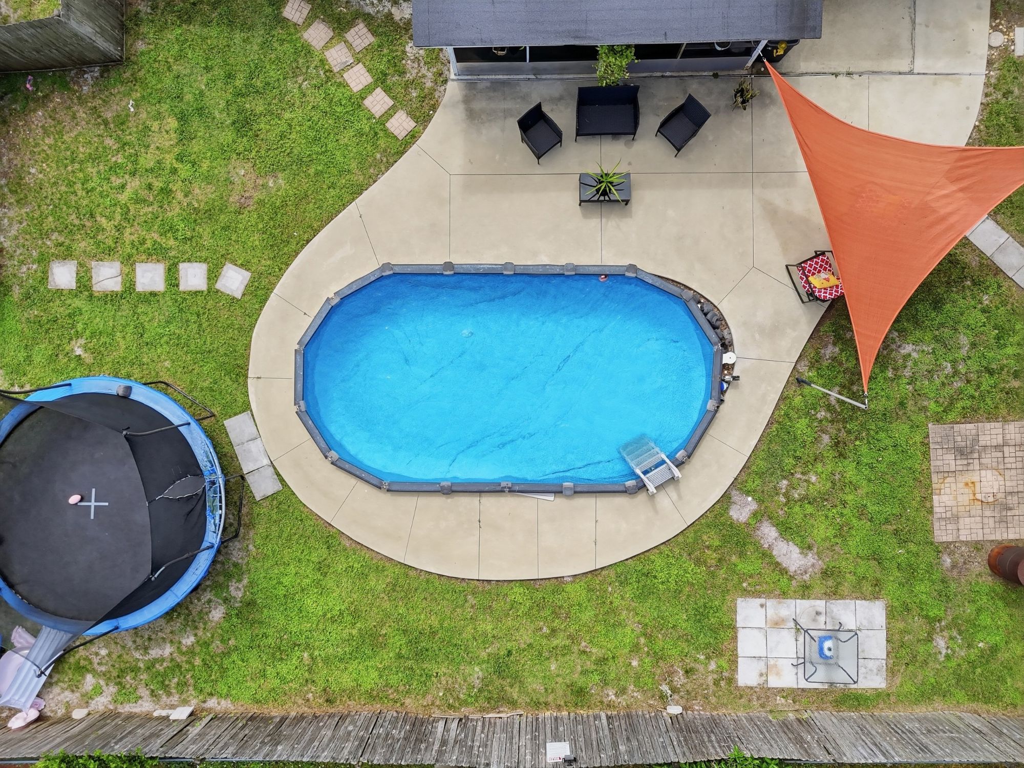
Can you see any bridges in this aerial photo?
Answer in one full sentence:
No, there is no bridge in the image.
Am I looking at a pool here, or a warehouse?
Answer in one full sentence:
The image shows a pool.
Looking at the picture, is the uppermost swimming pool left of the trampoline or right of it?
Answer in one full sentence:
Relative to the trampoline, the uppermost swimming pool is on the right.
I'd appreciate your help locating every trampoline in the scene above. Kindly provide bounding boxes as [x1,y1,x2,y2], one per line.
[0,376,246,671]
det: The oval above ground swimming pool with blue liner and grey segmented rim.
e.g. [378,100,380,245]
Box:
[294,262,722,495]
